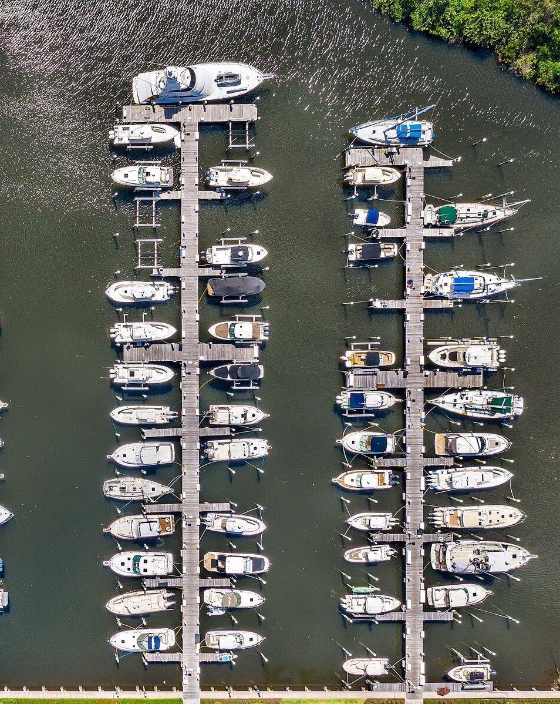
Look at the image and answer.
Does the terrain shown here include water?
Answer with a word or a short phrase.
Yes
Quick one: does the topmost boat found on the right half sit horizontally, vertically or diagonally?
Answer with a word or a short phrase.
horizontally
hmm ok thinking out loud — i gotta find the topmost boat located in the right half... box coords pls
[349,103,436,147]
